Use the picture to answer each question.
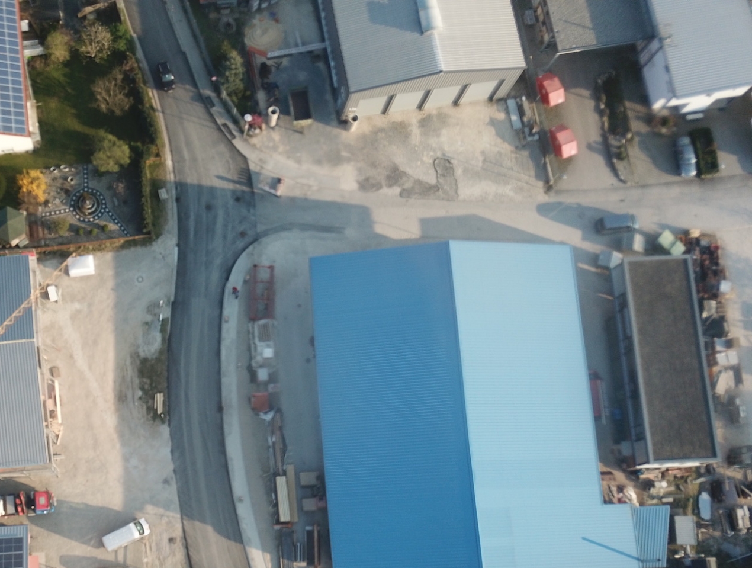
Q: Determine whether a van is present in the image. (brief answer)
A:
Yes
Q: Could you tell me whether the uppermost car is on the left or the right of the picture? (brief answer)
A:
left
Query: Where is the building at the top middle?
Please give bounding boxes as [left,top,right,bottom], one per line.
[322,0,527,118]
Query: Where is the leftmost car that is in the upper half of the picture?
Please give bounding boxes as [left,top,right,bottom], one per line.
[157,58,177,92]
